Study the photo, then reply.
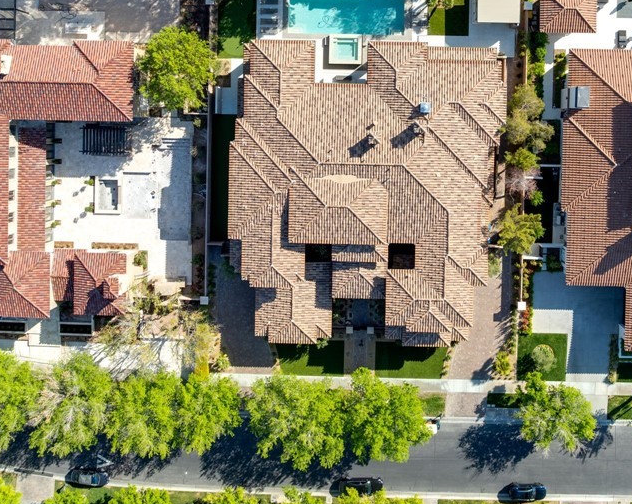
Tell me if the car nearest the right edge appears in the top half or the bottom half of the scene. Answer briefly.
bottom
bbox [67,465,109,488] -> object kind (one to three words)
car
